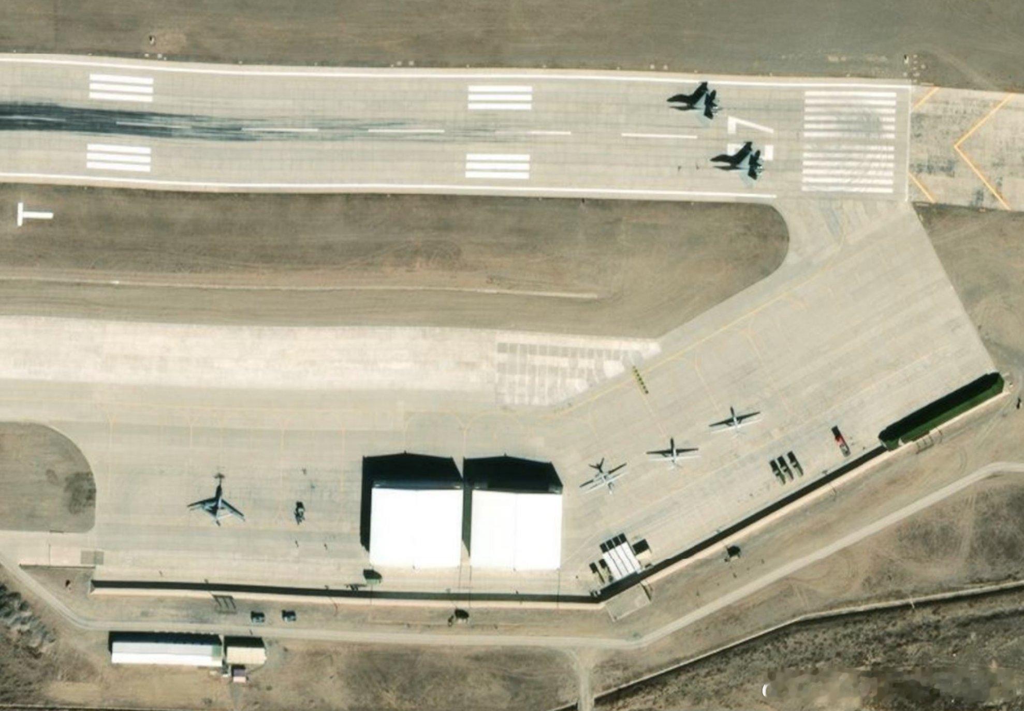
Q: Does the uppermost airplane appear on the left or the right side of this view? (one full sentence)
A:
The uppermost airplane is on the right side of the image.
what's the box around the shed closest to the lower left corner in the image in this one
[112,640,222,666]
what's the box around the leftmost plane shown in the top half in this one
[670,90,722,127]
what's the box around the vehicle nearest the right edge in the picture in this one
[834,436,851,458]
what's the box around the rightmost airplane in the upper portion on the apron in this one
[713,150,765,187]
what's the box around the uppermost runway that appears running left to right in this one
[0,53,1024,211]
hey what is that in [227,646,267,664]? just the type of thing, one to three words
building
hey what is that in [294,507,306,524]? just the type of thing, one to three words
vehicle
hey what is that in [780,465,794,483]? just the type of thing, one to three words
vehicle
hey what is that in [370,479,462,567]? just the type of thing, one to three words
hangar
